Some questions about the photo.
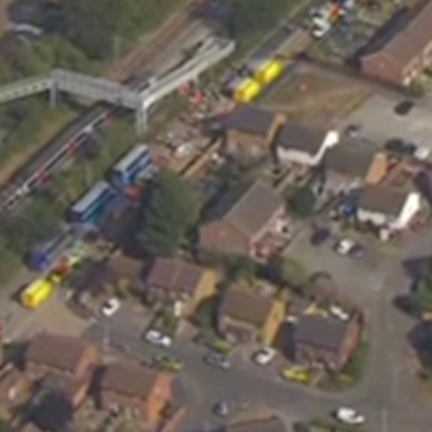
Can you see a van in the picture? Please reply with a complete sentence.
Yes, the frame does contain a van.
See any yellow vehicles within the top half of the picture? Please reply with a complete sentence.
Yes, a yellow vehicle shows up within the top half of the picture.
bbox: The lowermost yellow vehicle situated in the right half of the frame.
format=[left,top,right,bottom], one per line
[280,365,310,384]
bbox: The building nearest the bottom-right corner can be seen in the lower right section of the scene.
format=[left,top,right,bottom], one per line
[293,309,364,374]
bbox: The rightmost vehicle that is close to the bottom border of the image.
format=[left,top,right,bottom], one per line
[333,407,365,424]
